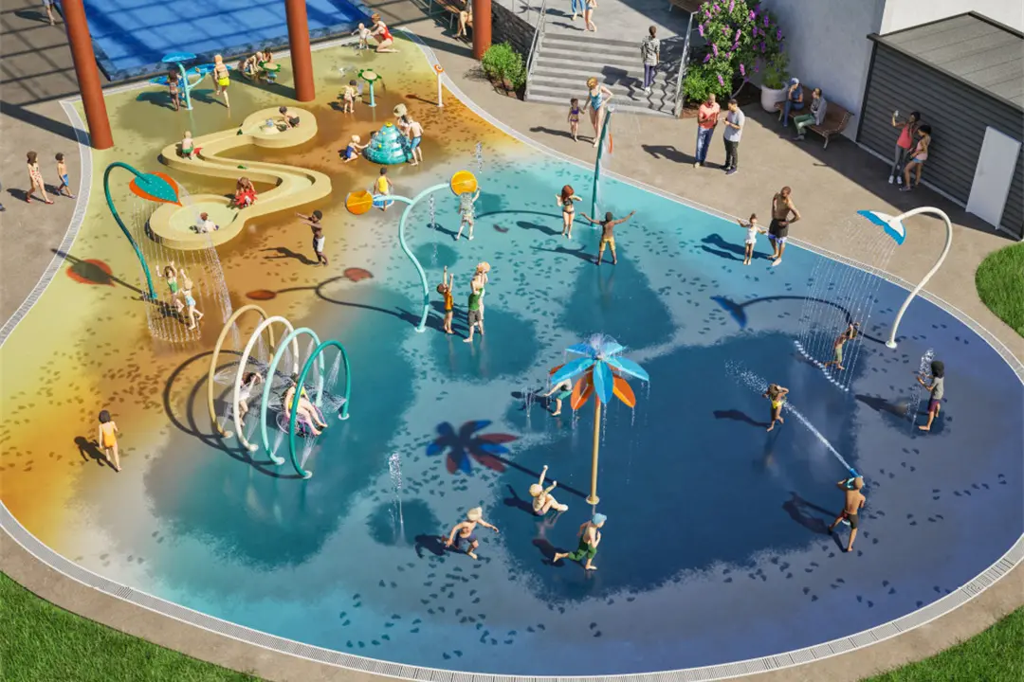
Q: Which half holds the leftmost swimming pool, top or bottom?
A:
top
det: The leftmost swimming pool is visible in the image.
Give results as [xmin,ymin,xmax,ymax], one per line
[33,0,378,82]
